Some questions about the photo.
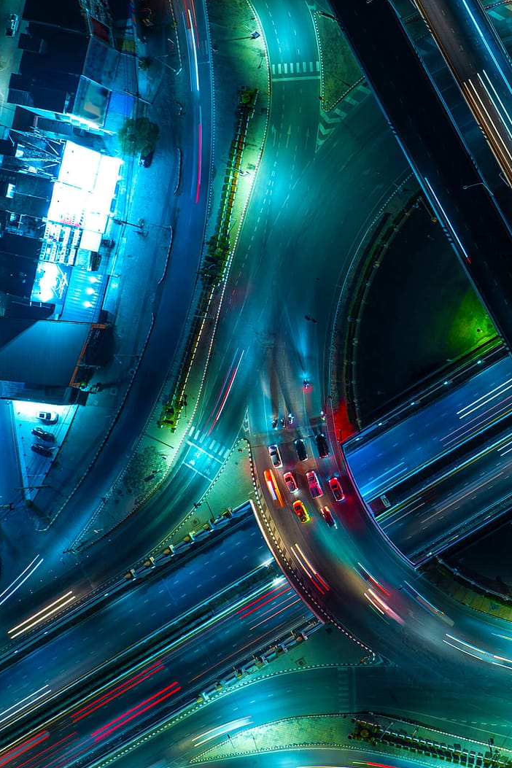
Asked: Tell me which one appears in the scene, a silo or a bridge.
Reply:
bridge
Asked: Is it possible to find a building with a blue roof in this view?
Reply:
Yes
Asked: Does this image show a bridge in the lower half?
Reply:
Yes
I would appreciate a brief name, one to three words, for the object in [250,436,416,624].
bridge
